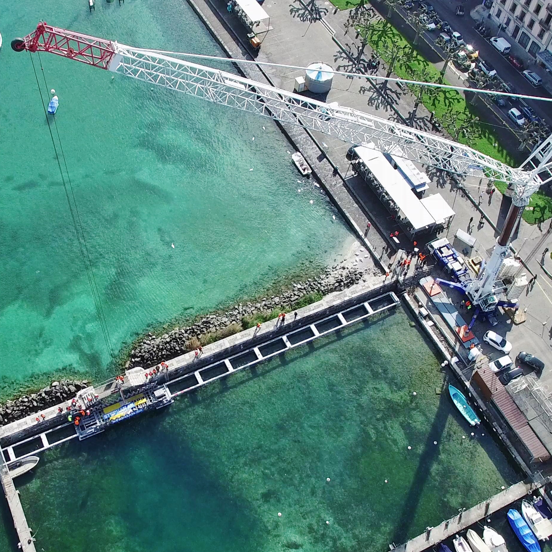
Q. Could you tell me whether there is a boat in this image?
Yes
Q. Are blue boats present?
Yes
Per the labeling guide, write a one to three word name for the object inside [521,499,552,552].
boat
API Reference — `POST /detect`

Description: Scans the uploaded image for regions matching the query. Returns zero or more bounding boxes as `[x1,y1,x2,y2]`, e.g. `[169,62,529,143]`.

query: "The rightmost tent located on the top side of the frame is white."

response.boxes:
[419,193,456,235]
